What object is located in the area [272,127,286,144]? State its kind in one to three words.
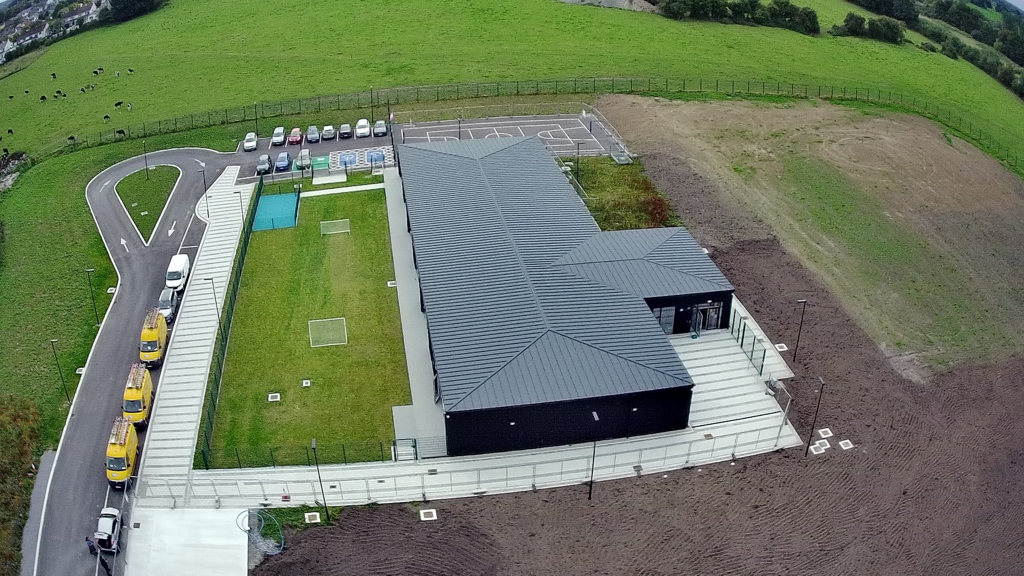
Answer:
car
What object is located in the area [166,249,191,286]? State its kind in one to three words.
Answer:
vehicle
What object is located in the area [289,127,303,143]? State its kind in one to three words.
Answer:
car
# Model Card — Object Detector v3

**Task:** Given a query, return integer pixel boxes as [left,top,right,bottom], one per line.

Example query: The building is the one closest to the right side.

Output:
[399,136,734,456]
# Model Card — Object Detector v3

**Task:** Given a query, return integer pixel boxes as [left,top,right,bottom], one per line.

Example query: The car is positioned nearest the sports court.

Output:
[372,119,387,135]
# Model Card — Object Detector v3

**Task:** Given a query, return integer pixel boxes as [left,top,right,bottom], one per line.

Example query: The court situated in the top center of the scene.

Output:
[393,114,623,169]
